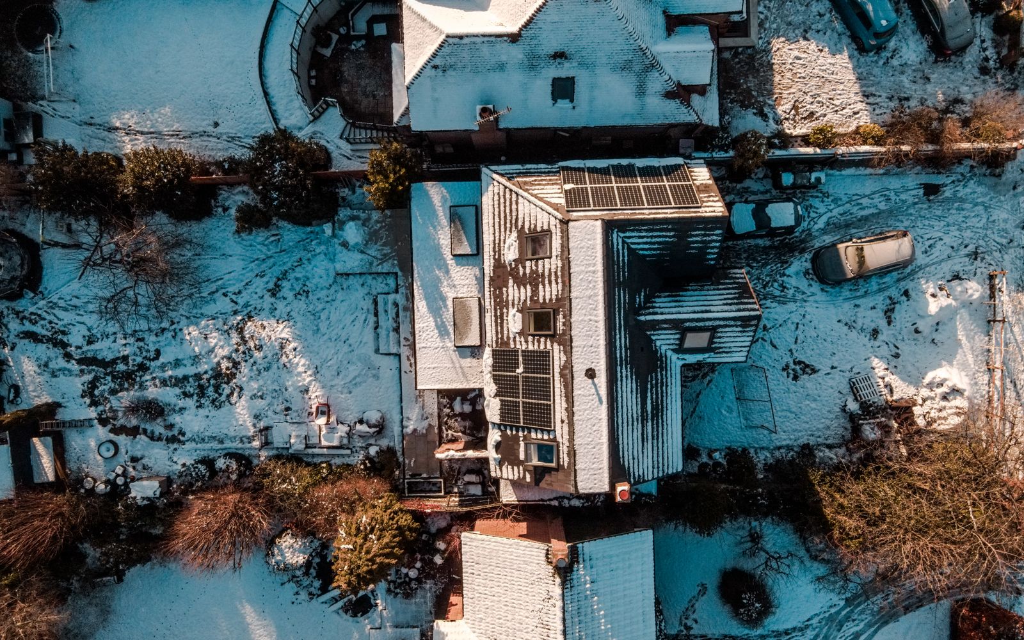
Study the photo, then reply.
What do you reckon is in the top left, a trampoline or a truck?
trampoline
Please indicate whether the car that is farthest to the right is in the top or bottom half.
top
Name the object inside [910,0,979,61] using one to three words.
car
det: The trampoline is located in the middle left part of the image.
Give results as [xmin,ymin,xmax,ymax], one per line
[0,226,47,301]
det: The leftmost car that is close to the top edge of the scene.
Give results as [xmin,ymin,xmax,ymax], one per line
[822,0,903,57]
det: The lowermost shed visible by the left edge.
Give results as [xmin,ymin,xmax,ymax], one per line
[0,425,42,501]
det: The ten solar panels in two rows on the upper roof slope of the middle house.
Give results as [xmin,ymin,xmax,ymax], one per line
[560,161,704,208]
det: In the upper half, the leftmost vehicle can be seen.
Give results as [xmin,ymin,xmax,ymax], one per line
[726,194,810,241]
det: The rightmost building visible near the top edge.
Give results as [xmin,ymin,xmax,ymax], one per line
[390,0,745,164]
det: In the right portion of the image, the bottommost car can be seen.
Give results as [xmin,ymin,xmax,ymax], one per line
[808,230,918,285]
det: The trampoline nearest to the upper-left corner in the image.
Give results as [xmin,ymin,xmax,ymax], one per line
[14,4,70,58]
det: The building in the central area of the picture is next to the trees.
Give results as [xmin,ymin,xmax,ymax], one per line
[408,158,766,507]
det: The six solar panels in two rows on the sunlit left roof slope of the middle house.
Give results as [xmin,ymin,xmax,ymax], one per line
[488,348,550,430]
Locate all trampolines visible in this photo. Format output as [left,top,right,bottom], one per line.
[0,226,47,301]
[14,4,70,58]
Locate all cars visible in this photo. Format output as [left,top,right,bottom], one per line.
[808,230,918,285]
[726,194,810,241]
[910,0,979,61]
[822,0,903,57]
